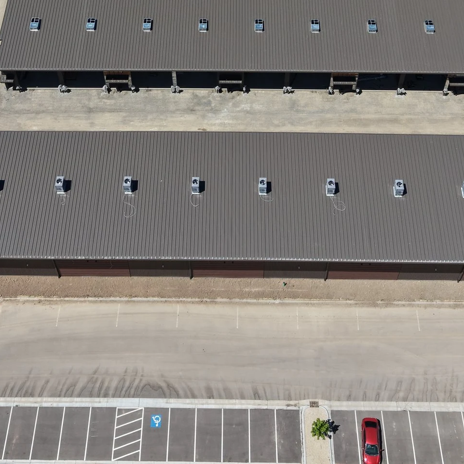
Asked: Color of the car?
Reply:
red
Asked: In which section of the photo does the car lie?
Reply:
bottom right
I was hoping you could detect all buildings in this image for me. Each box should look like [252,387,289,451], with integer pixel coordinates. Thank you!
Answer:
[0,0,464,93]
[0,130,464,285]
